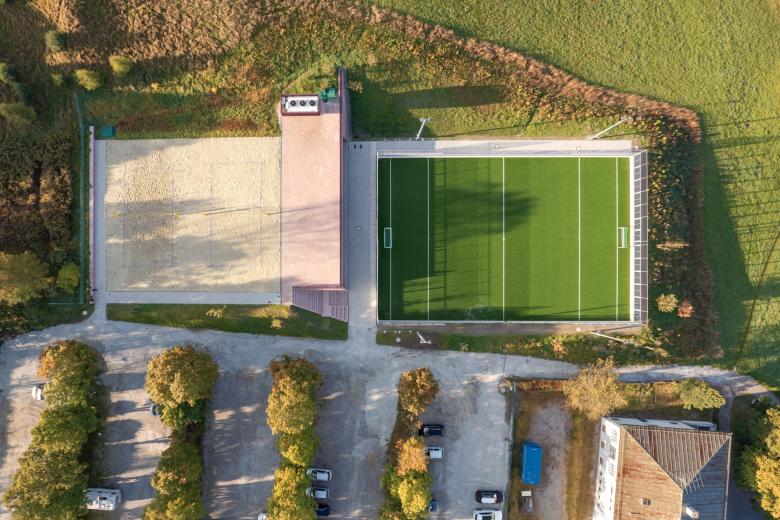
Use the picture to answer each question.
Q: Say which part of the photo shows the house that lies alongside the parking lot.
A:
bottom right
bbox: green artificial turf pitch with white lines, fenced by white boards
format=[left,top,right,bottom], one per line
[377,155,636,323]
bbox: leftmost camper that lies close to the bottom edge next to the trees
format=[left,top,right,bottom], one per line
[84,489,129,511]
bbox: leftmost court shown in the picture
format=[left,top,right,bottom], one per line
[107,138,192,294]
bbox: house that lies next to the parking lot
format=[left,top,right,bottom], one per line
[595,416,734,520]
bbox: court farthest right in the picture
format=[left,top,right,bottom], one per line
[192,138,281,294]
